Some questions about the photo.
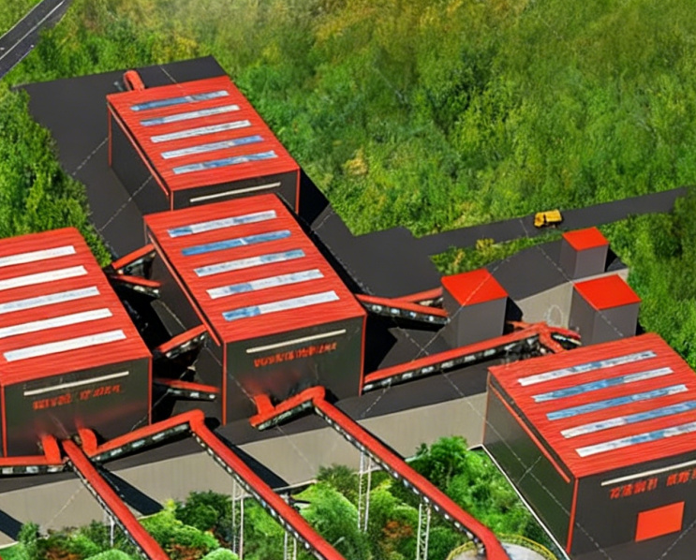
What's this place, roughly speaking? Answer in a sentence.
It's an industrial area.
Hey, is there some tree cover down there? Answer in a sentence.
Yes, there's tree cover in this view.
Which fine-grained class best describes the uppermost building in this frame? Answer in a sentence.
It looks like the uppermost building is a warehouse.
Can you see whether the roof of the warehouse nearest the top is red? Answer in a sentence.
Yes, the roof of the warehouse nearest the top appears red.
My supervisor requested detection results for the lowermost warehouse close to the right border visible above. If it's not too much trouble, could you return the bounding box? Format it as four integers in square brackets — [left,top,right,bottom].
[482,332,696,553]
